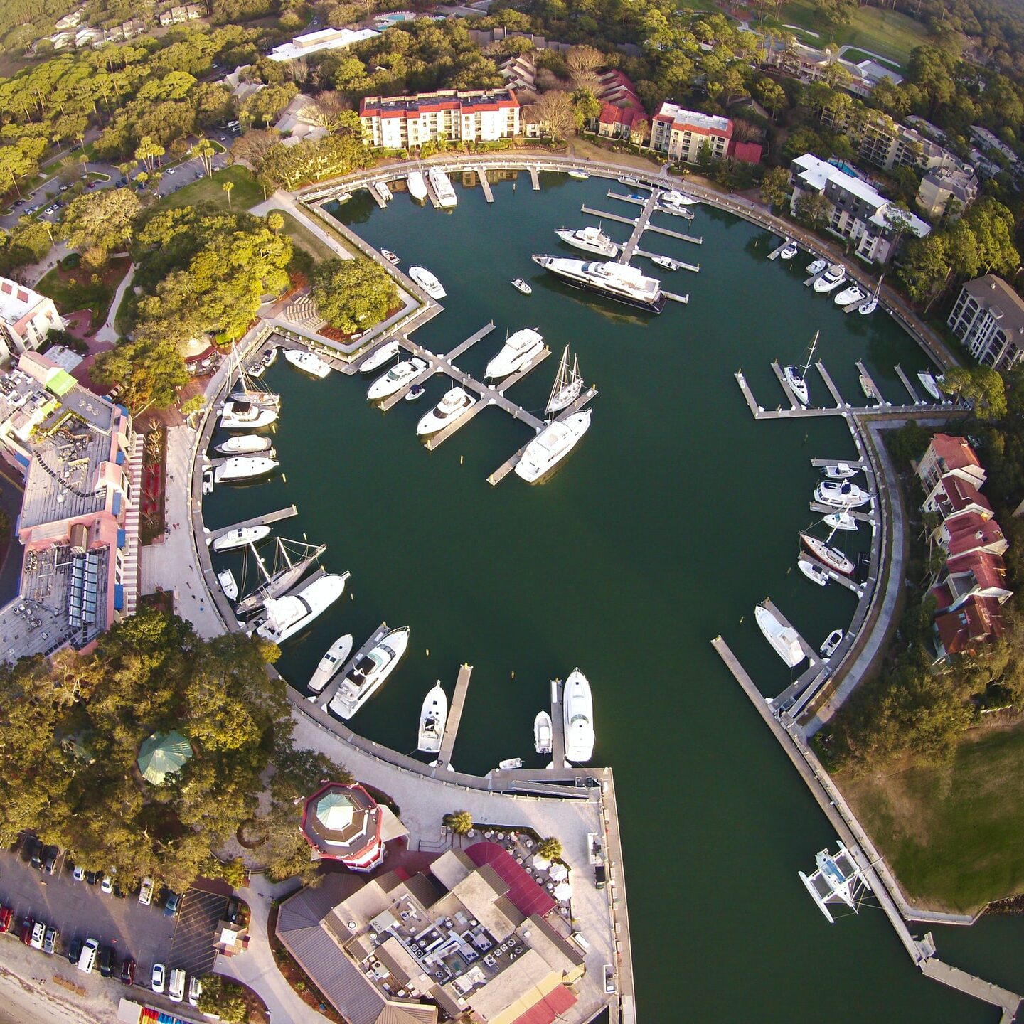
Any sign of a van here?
Yes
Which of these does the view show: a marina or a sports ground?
marina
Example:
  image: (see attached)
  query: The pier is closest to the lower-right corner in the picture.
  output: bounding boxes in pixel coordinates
[923,957,1021,1024]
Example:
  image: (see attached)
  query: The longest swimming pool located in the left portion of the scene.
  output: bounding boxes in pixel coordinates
[377,11,415,29]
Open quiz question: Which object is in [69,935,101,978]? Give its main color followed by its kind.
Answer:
white van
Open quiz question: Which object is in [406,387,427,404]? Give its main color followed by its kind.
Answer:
white boat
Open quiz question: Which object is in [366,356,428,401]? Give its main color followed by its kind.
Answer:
white boat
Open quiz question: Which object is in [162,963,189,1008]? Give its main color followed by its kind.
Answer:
white vehicle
